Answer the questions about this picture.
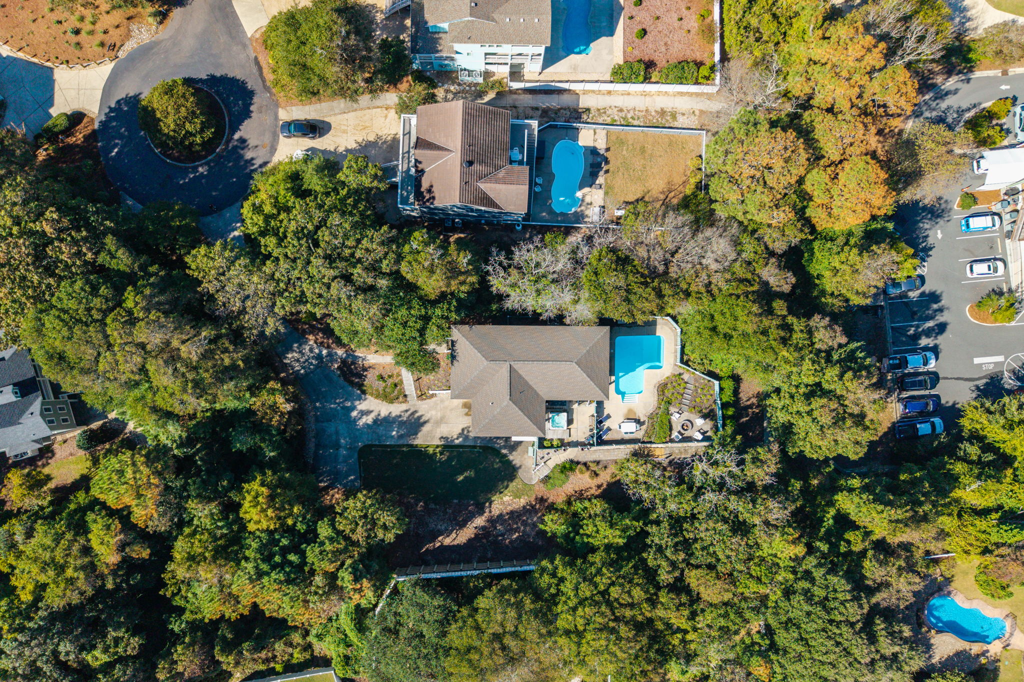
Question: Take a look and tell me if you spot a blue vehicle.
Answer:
Yes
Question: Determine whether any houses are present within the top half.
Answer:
Yes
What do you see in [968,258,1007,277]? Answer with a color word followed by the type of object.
white car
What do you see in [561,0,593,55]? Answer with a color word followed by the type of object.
blue swimming pool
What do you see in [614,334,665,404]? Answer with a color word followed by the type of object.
blue swimming pool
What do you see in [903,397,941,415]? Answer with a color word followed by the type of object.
blue car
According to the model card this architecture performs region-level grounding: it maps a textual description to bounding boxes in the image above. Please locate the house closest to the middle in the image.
[448,325,610,441]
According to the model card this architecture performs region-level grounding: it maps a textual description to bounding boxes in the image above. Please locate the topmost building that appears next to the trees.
[410,0,551,72]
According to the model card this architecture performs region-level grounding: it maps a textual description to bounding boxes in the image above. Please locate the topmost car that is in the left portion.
[279,118,319,138]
